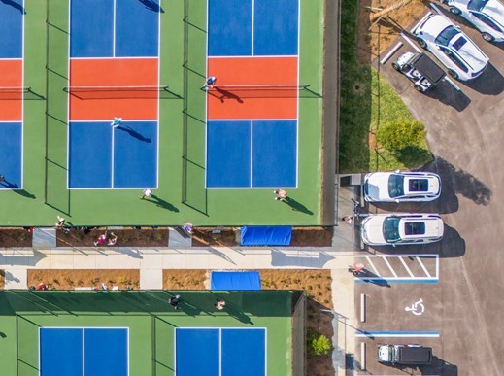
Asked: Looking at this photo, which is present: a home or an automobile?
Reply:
automobile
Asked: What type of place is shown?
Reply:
sports ground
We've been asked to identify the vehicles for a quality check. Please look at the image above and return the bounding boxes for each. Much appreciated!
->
[417,15,486,79]
[361,210,444,248]
[375,341,431,367]
[363,167,441,204]
[448,0,504,40]
[393,48,444,91]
